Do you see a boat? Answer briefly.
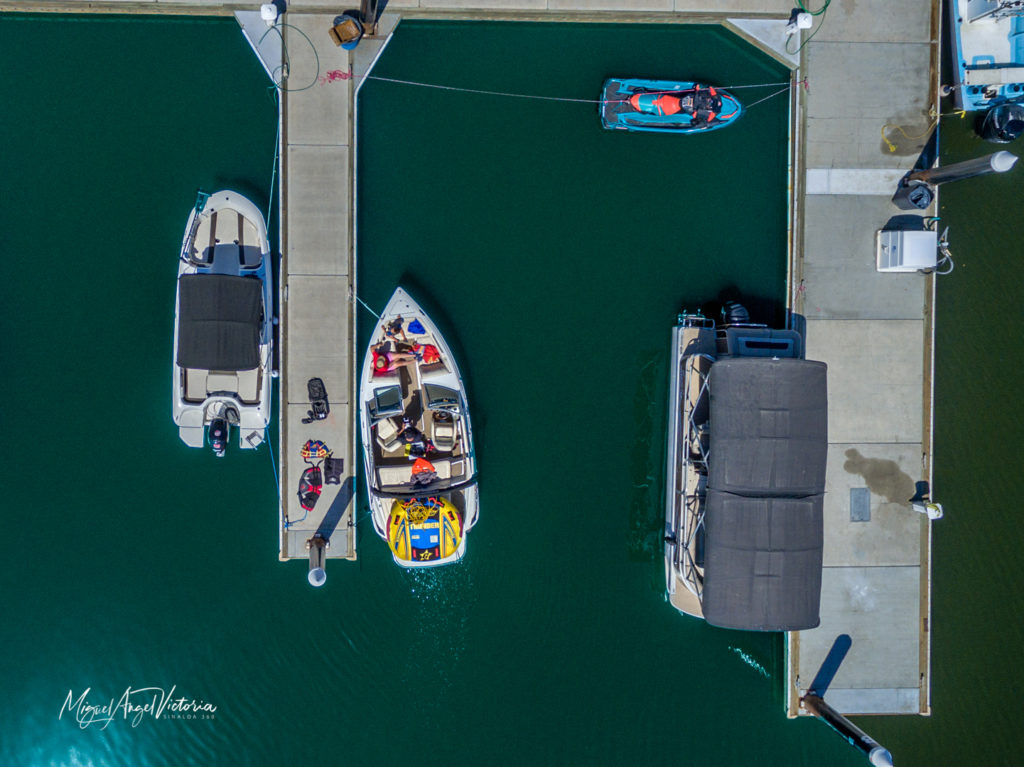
Yes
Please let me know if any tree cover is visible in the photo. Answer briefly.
No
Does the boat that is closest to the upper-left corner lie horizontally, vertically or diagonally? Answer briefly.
vertically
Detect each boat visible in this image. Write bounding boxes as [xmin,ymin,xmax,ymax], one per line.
[360,287,479,567]
[944,0,1024,147]
[599,79,742,135]
[664,298,827,632]
[173,189,273,456]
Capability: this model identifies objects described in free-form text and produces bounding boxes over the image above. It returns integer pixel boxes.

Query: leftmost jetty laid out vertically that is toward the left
[235,12,402,561]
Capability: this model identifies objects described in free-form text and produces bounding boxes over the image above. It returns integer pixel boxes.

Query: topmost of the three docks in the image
[0,0,799,30]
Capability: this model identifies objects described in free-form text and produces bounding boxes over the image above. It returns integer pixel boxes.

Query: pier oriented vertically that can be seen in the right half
[717,0,941,718]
